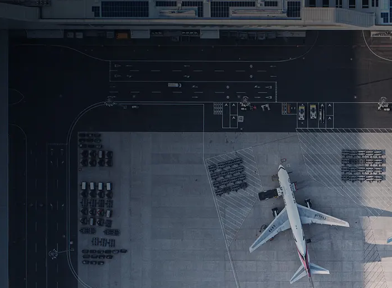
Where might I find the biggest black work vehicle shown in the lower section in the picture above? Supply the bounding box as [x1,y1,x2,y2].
[257,189,282,202]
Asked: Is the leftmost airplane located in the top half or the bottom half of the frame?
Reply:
bottom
